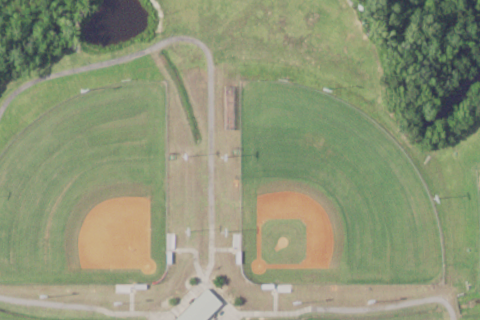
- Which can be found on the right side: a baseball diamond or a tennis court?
baseball diamond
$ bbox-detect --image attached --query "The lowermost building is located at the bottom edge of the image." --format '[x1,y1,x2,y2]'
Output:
[179,290,223,320]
